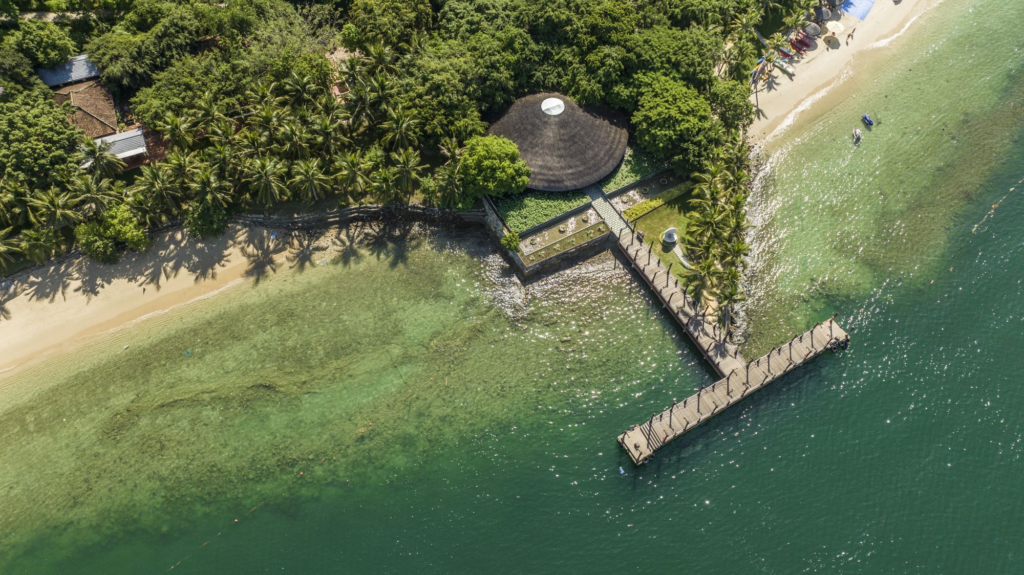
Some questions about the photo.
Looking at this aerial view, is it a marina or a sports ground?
marina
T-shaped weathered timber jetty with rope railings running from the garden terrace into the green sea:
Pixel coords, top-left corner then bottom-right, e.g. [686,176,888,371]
[616,231,853,468]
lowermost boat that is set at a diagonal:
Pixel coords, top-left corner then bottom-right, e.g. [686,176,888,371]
[859,111,875,126]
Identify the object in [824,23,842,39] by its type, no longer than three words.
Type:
umbrella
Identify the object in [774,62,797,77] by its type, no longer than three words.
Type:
boat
